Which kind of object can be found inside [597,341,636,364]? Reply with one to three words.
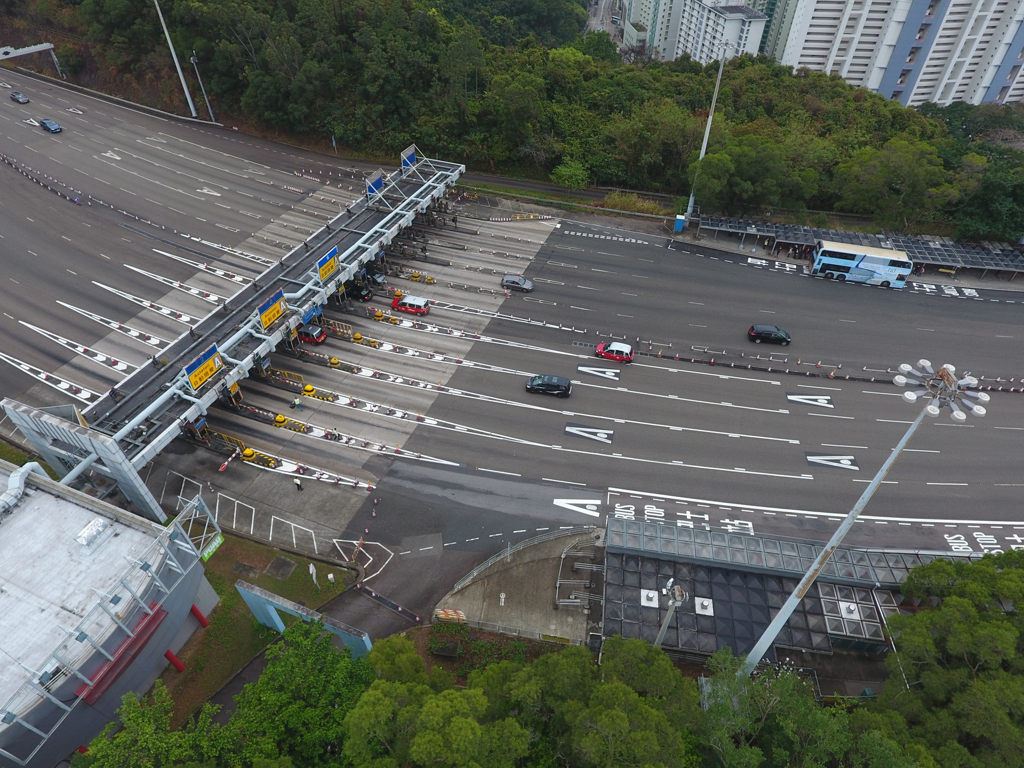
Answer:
car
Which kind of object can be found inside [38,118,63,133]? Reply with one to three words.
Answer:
car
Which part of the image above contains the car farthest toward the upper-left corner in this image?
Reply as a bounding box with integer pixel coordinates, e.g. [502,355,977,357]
[7,91,31,105]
